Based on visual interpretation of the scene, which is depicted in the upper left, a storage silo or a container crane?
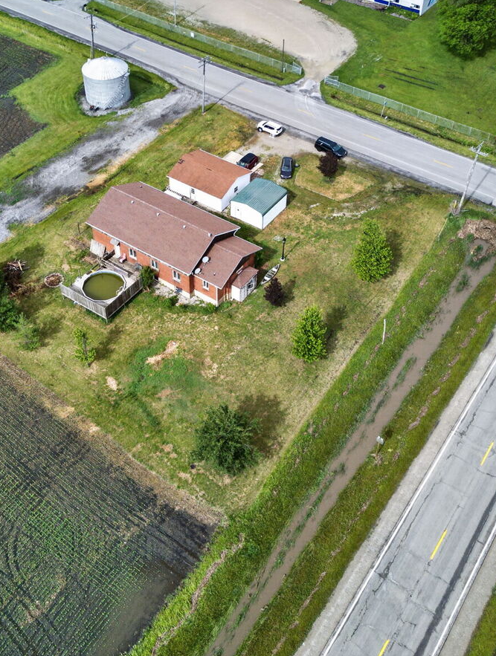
storage silo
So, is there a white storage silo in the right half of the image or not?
No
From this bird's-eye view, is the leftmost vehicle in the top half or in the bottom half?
top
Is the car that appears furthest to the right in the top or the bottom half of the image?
top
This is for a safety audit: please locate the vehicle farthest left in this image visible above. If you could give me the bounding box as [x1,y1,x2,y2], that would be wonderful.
[235,149,260,169]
